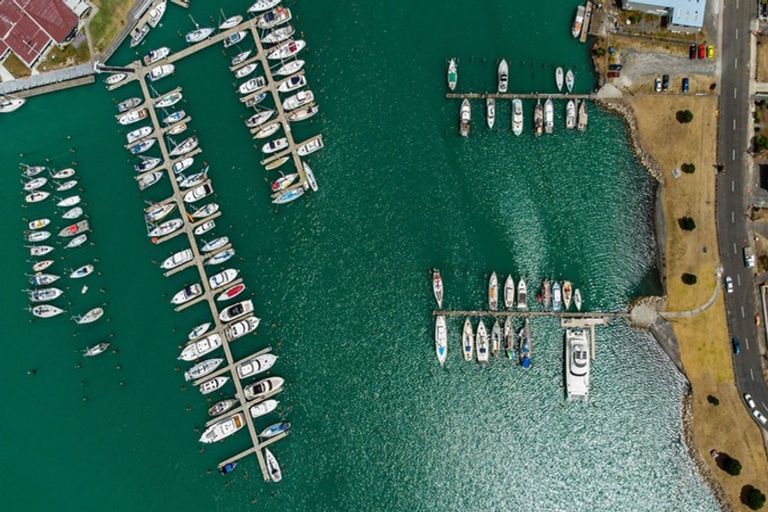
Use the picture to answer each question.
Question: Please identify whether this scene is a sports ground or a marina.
marina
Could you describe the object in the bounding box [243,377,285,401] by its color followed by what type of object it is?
white boat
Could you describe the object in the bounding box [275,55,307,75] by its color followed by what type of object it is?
white boat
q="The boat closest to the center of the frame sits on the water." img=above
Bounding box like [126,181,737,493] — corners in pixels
[431,269,443,309]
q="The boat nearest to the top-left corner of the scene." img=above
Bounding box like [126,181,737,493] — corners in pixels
[0,94,27,115]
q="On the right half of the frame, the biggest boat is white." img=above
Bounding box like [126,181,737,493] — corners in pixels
[564,327,592,402]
